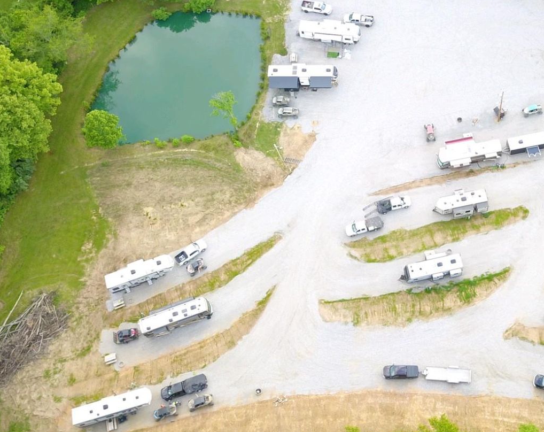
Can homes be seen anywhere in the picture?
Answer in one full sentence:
No, no home is visible in the view.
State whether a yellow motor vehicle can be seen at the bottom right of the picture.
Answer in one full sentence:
No, there is no yellow motor vehicle at the bottom right of the picture.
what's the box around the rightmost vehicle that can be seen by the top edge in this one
[344,13,375,26]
